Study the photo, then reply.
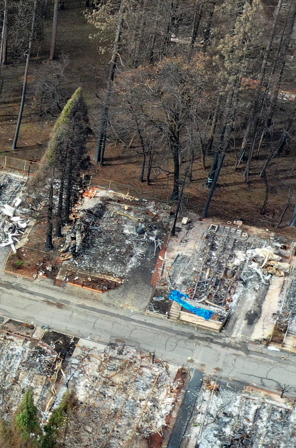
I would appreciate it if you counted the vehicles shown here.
0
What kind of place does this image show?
residential area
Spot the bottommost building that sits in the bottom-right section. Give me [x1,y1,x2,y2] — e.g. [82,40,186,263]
[169,370,296,448]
